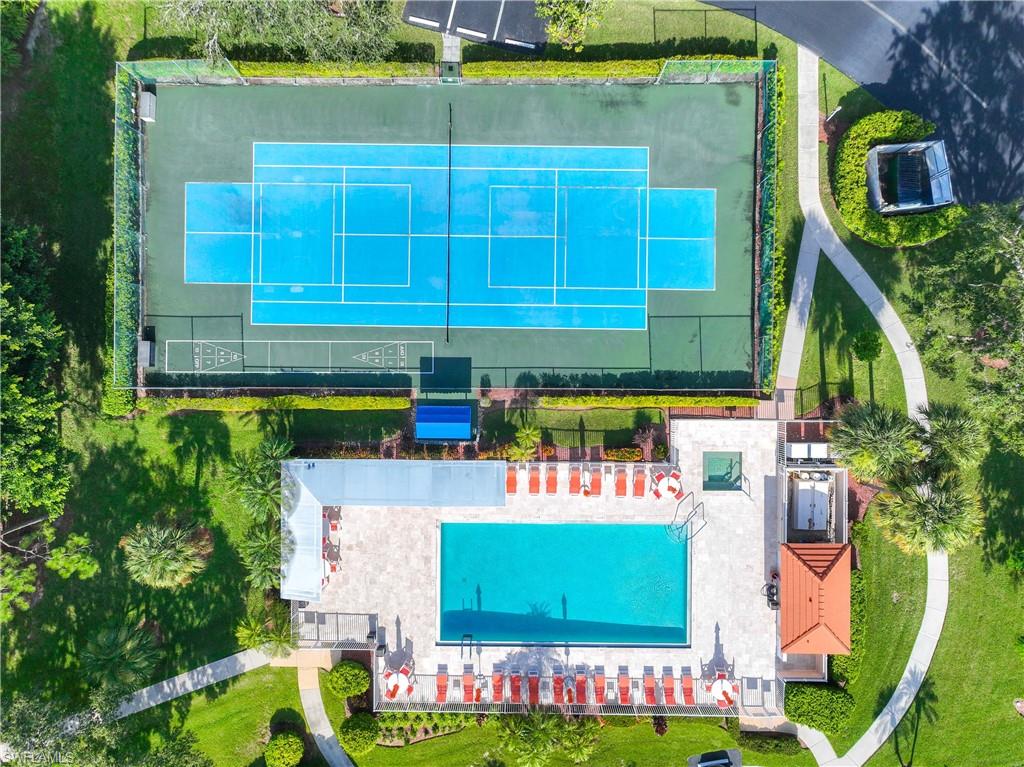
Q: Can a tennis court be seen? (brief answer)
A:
Yes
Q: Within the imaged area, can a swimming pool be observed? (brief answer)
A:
Yes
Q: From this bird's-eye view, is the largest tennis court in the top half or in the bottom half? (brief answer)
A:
top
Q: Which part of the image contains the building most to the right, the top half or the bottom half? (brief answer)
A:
bottom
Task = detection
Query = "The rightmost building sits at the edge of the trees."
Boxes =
[771,540,853,684]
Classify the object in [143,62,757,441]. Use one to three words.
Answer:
tennis court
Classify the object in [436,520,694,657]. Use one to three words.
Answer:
swimming pool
